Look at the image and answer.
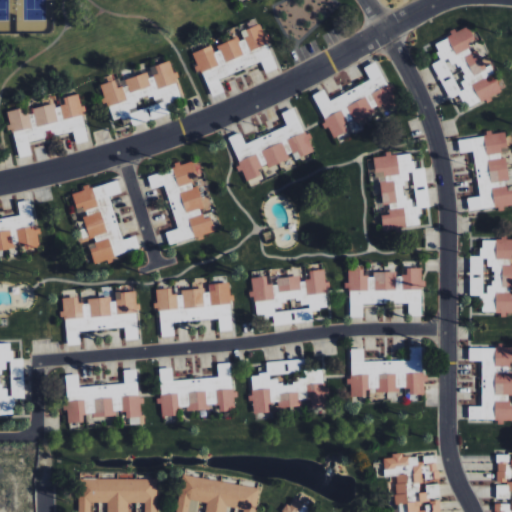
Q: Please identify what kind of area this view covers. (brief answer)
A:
residential area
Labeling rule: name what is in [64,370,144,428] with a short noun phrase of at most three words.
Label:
house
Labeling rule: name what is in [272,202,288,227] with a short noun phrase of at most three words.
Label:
swimming pool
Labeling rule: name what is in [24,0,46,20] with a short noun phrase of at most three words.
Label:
tennis court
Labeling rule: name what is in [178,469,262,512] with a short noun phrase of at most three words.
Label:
house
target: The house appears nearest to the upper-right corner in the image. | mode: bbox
[424,27,504,109]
